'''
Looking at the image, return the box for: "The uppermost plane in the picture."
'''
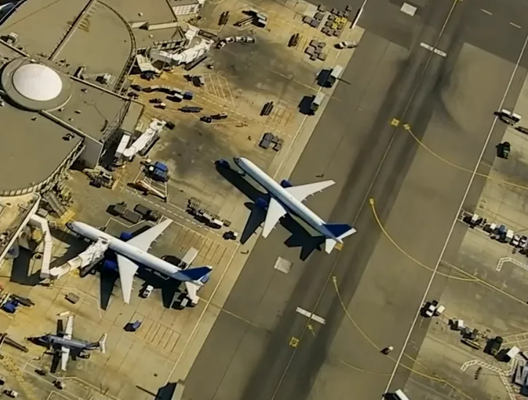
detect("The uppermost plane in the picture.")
[234,158,355,251]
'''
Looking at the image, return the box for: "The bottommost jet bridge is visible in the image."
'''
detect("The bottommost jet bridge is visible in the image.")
[31,215,113,283]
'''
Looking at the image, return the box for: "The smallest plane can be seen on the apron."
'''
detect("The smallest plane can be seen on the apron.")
[30,320,97,373]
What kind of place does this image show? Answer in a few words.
airport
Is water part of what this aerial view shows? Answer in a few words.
No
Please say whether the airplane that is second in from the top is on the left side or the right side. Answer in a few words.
left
